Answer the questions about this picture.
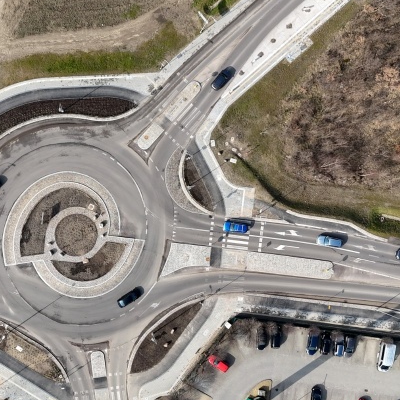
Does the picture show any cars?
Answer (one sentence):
Yes, the frame does contain a car.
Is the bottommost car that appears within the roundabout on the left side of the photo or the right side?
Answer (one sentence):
The bottommost car that appears within the roundabout appears in the left half of the scene.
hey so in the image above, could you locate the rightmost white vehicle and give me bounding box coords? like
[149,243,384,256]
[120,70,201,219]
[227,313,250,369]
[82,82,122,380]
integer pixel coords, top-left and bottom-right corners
[377,338,396,369]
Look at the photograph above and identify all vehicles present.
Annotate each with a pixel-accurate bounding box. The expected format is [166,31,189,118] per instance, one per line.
[224,220,250,232]
[117,285,143,307]
[316,234,344,247]
[342,333,356,357]
[205,352,230,373]
[304,330,318,355]
[331,334,345,356]
[395,248,400,258]
[377,338,396,369]
[269,325,280,348]
[254,323,266,350]
[318,330,331,355]
[310,384,323,400]
[209,66,234,91]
